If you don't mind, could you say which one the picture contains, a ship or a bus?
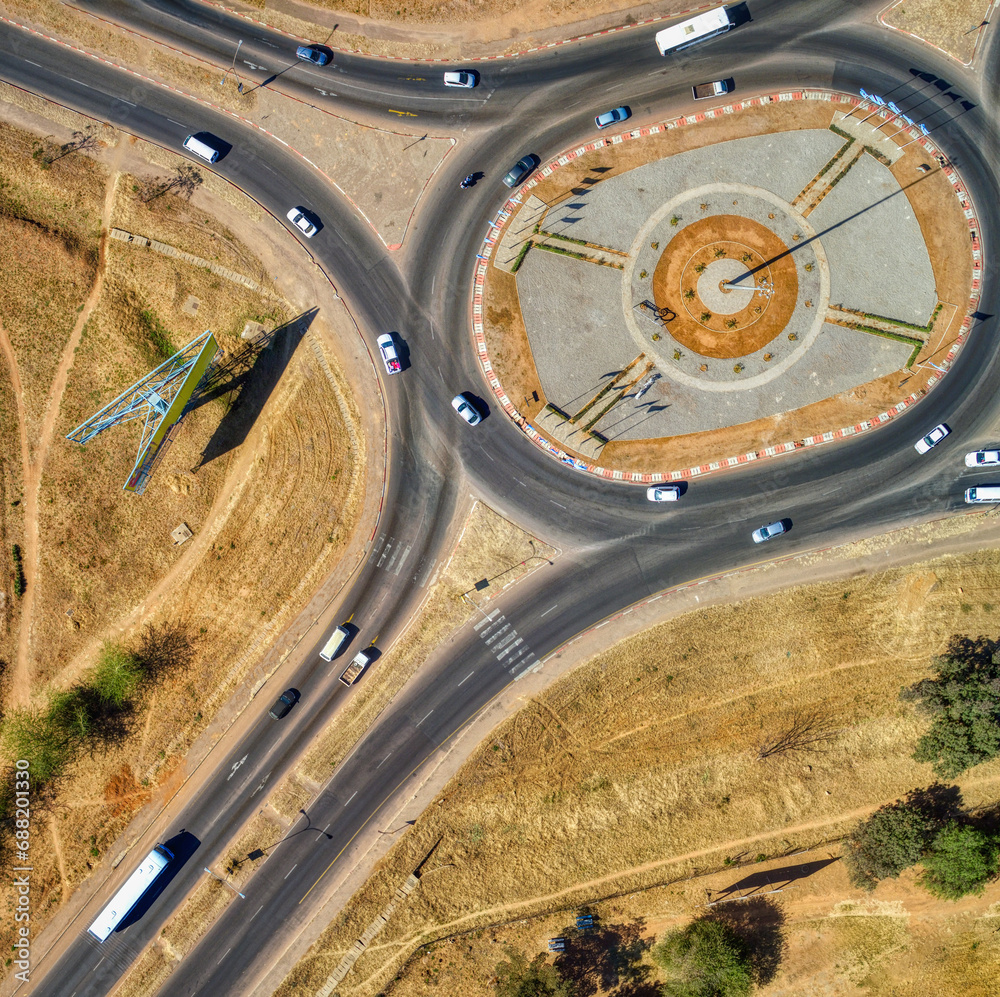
bus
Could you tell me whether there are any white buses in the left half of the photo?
Yes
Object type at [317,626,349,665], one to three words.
vehicle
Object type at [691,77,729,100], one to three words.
truck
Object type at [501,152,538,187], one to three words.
car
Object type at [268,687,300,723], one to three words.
car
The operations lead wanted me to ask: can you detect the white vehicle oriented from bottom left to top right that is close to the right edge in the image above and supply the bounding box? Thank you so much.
[914,420,954,455]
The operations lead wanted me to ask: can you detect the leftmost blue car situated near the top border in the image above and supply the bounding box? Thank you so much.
[293,42,330,67]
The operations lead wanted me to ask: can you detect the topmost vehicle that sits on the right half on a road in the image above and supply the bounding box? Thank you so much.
[654,0,738,54]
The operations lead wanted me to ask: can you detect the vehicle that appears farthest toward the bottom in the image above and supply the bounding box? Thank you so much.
[80,845,174,954]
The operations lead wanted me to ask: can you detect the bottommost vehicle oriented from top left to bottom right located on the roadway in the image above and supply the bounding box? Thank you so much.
[448,393,483,429]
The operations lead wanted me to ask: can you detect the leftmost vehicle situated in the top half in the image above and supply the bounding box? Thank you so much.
[181,134,218,162]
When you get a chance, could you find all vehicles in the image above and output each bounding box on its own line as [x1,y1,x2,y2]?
[501,152,538,187]
[966,485,1000,505]
[595,104,630,128]
[966,449,1000,469]
[646,484,682,504]
[337,649,368,688]
[914,420,954,455]
[691,77,729,100]
[376,334,401,376]
[448,393,483,429]
[80,845,174,954]
[444,68,476,87]
[282,204,319,240]
[317,626,349,665]
[654,0,738,54]
[293,42,330,67]
[751,520,790,545]
[181,134,218,162]
[268,687,300,723]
